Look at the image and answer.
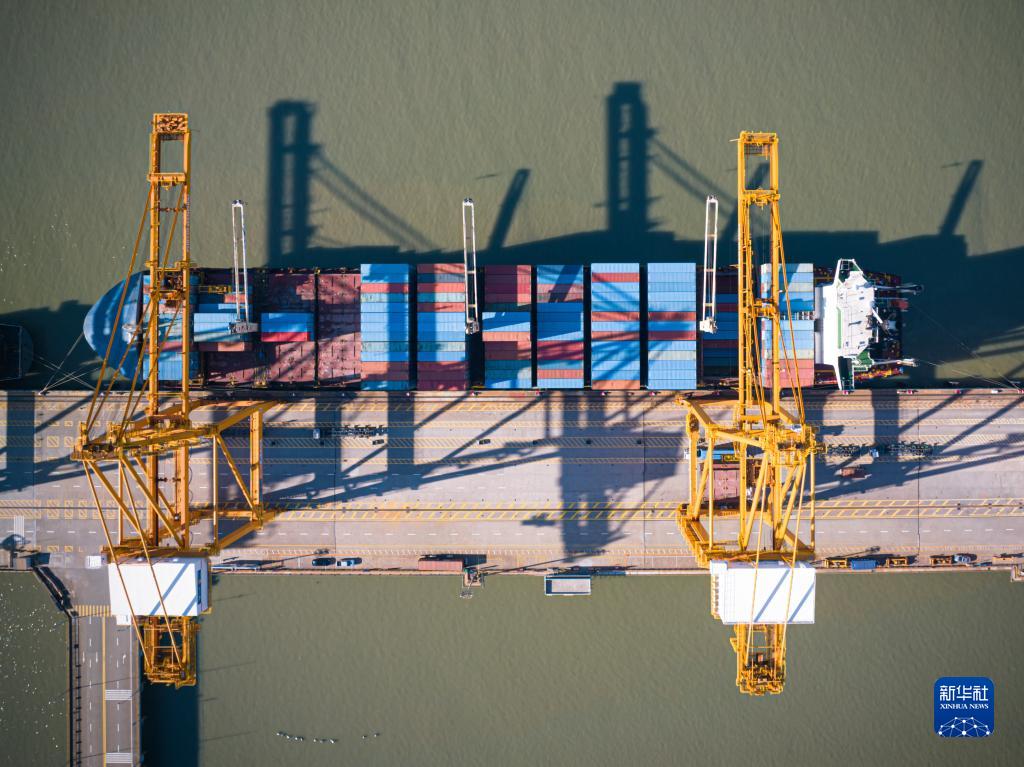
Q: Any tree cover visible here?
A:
No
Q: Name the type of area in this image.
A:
port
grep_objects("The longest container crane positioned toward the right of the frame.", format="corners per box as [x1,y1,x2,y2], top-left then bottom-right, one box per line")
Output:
[670,131,830,695]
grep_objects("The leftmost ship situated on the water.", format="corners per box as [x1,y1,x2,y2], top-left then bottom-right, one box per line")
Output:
[0,322,46,382]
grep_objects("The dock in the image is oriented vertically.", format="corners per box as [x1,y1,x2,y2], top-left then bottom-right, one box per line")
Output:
[31,570,145,767]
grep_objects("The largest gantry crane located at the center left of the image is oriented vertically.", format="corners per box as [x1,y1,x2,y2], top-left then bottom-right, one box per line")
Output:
[69,112,290,687]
